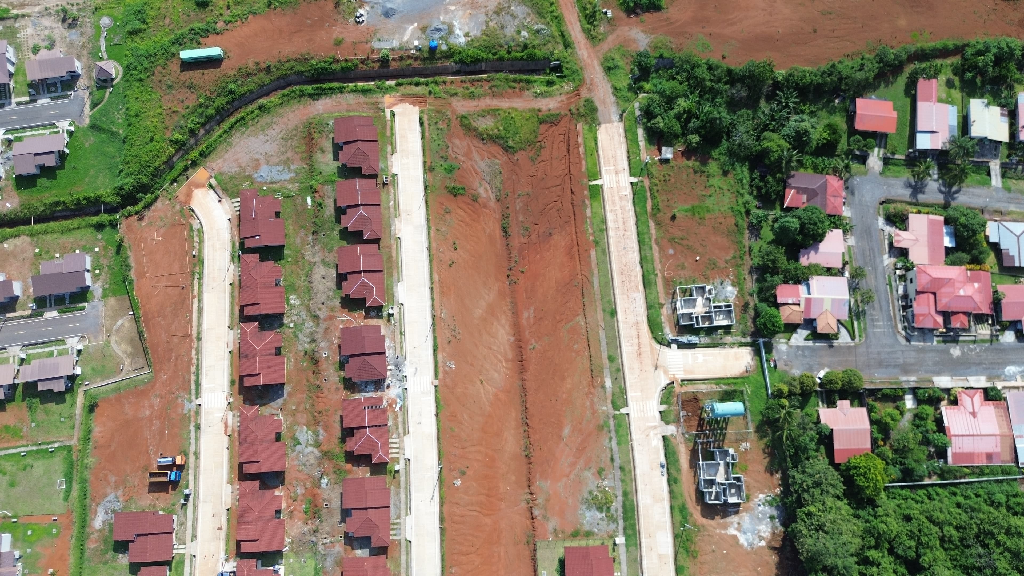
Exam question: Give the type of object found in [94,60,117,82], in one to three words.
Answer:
gazebo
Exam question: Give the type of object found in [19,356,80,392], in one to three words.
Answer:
house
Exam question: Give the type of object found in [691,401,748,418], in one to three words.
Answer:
water tank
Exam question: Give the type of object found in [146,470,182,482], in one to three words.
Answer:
vehicle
